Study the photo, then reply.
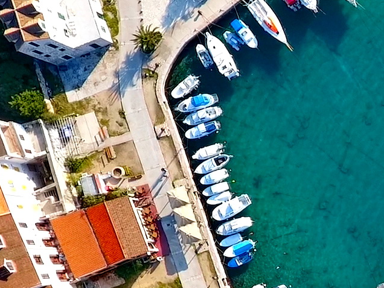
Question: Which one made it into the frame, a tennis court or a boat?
boat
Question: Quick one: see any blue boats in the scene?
Yes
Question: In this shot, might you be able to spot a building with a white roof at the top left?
Yes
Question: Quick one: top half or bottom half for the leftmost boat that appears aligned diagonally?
top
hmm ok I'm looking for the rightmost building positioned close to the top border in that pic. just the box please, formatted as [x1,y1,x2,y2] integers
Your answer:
[59,0,112,54]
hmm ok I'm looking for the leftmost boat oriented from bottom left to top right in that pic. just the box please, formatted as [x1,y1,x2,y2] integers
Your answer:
[170,75,200,98]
